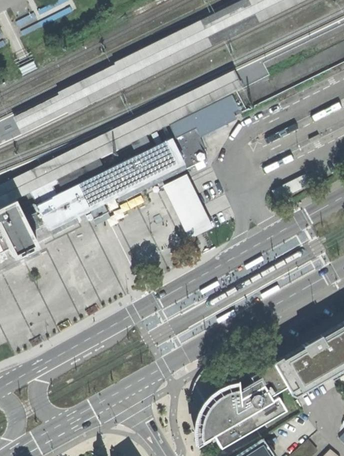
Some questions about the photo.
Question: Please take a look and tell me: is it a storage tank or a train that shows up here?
train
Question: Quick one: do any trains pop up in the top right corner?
No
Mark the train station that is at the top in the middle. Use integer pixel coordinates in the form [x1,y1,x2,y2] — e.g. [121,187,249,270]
[0,0,344,196]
